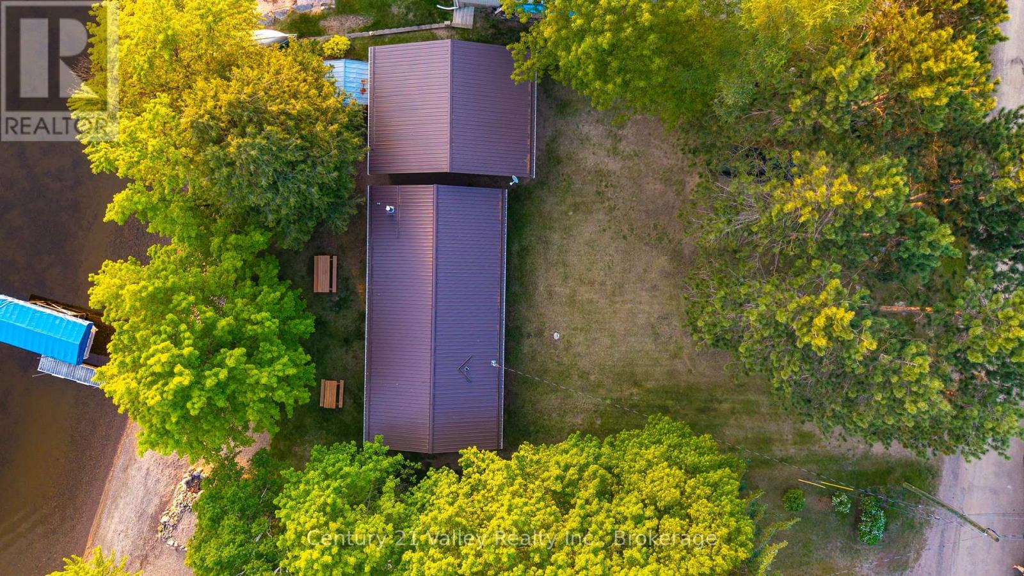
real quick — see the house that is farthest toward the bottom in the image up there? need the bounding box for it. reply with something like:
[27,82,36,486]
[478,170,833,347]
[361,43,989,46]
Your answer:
[361,184,509,452]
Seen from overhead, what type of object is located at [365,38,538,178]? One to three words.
building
